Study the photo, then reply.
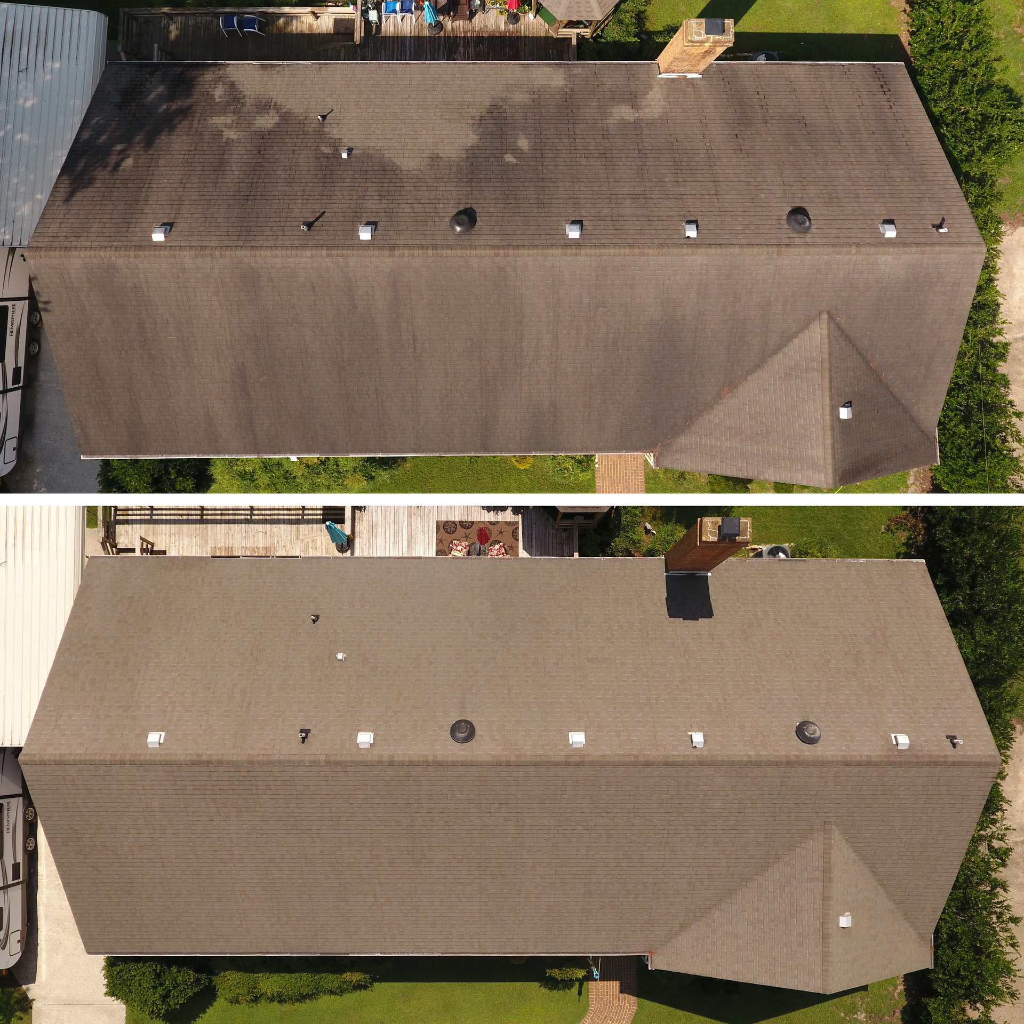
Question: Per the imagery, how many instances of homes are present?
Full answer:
There are 2 homes in the image.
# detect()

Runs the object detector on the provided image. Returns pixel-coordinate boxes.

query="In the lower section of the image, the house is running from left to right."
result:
[20,516,1000,995]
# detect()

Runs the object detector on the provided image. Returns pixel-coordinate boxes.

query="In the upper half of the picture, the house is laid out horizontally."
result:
[29,11,984,489]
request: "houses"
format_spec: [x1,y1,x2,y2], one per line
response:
[20,516,1000,995]
[29,11,984,489]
